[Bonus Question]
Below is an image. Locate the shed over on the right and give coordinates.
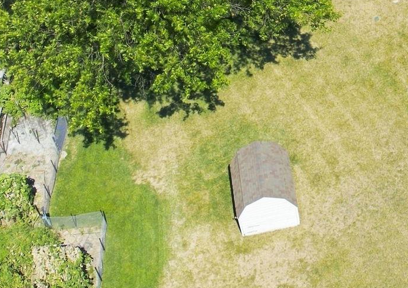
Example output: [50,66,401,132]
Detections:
[229,133,300,236]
